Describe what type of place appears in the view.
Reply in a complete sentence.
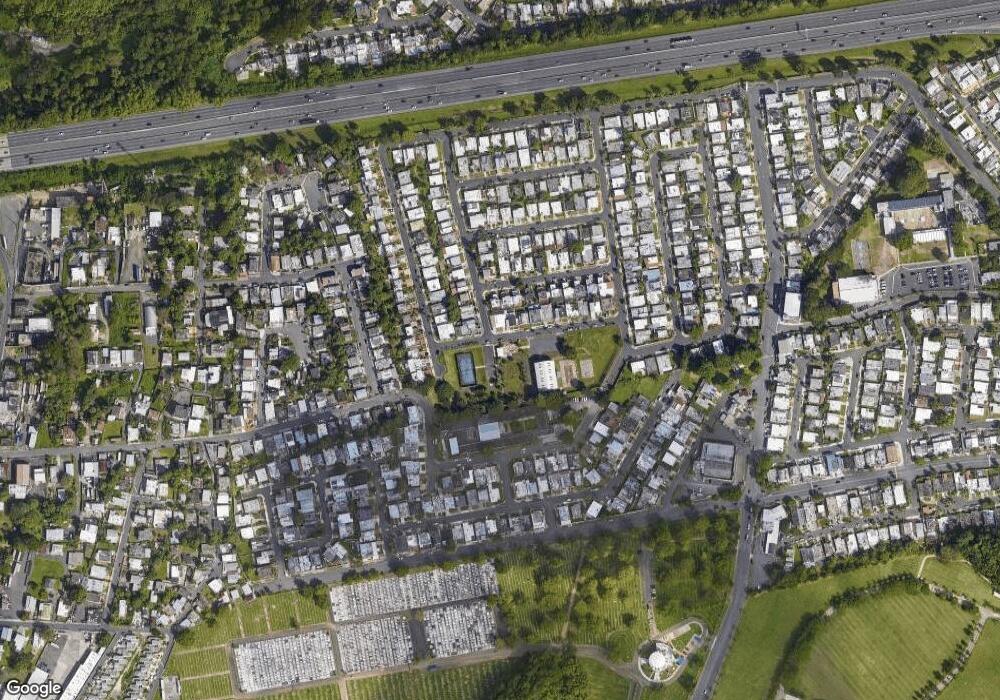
The picture captures a residential area.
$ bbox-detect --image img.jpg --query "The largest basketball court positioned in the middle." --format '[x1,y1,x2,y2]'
[455,351,477,387]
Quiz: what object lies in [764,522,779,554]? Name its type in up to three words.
building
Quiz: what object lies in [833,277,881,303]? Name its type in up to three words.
building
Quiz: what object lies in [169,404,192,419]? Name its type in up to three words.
house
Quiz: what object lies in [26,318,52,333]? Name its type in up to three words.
house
